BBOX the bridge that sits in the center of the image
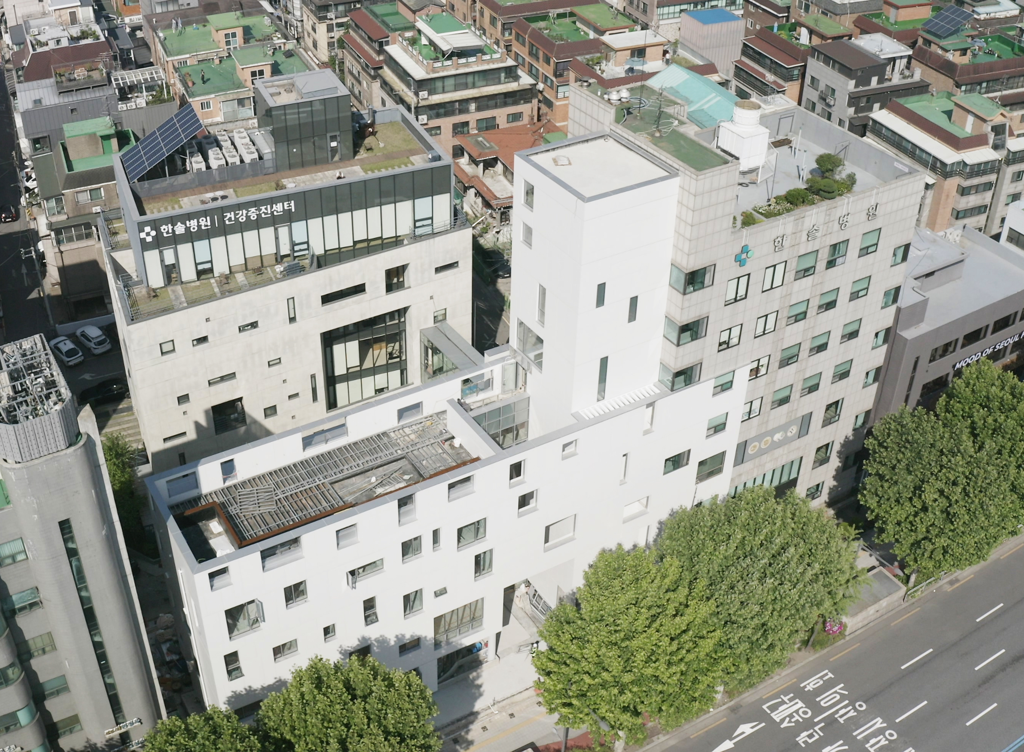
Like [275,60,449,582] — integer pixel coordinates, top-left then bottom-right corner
[420,322,485,397]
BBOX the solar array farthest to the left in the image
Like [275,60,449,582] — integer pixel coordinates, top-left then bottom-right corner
[122,103,204,191]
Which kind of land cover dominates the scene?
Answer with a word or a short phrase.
buildings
